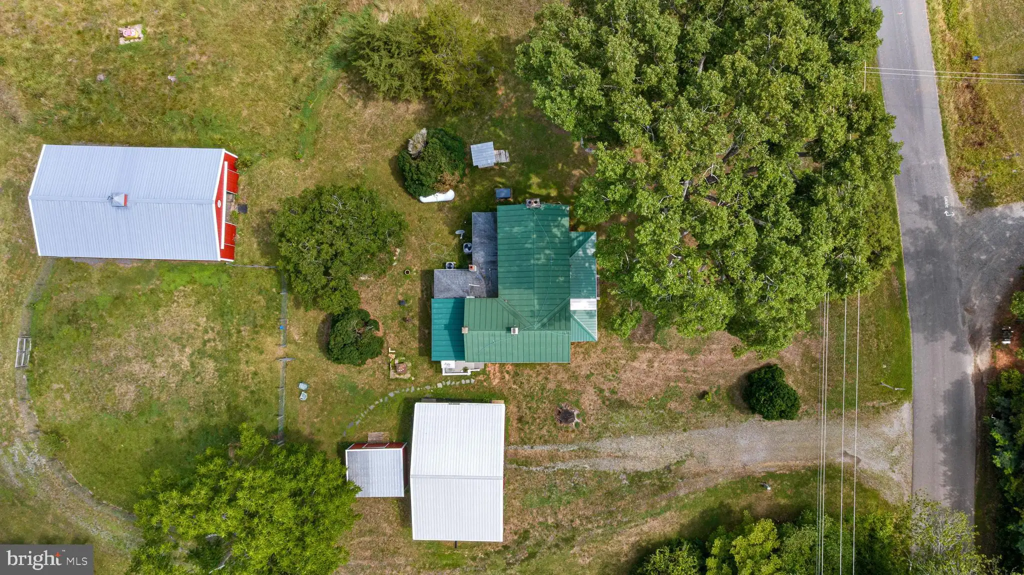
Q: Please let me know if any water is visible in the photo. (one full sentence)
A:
No, no water is visible.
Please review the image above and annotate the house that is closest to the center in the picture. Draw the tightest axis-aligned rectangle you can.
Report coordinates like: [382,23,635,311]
[431,199,600,376]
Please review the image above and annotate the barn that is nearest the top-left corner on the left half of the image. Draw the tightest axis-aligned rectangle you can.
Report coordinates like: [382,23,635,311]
[27,144,239,262]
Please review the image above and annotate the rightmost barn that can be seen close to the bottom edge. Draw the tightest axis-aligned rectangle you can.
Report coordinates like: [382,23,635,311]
[409,398,506,550]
